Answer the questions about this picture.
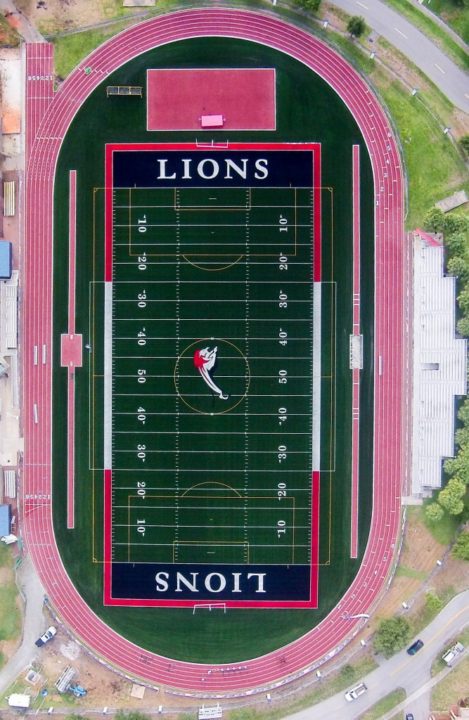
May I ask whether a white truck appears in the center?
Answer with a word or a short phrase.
No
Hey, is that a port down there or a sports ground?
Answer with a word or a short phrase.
sports ground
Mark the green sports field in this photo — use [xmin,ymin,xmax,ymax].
[52,37,373,664]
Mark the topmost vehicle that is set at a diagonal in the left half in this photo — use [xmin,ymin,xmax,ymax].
[32,625,58,650]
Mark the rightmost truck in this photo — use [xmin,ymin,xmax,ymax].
[441,642,467,669]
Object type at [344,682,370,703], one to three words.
truck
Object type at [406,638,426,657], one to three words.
car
